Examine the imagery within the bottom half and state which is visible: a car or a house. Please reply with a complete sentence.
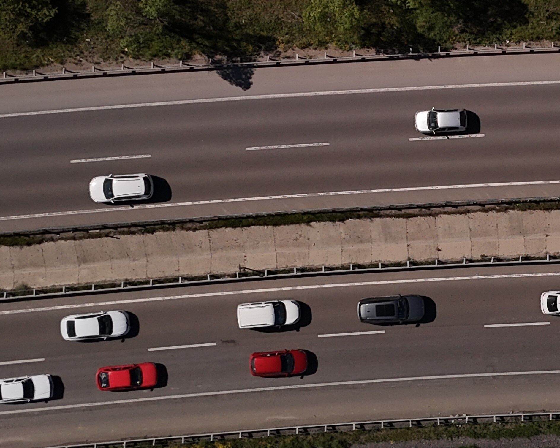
You can see a car within the bottom half.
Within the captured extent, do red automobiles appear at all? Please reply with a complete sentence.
Yes, there's a red automobile down there.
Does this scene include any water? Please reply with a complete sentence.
No, the scene doesn't show any water.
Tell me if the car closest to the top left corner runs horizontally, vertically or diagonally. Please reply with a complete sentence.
I'd say the car closest to the top left corner is aligned horizontally in the picture.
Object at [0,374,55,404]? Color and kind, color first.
white car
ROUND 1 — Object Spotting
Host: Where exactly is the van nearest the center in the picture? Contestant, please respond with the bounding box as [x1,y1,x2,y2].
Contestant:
[237,298,302,329]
